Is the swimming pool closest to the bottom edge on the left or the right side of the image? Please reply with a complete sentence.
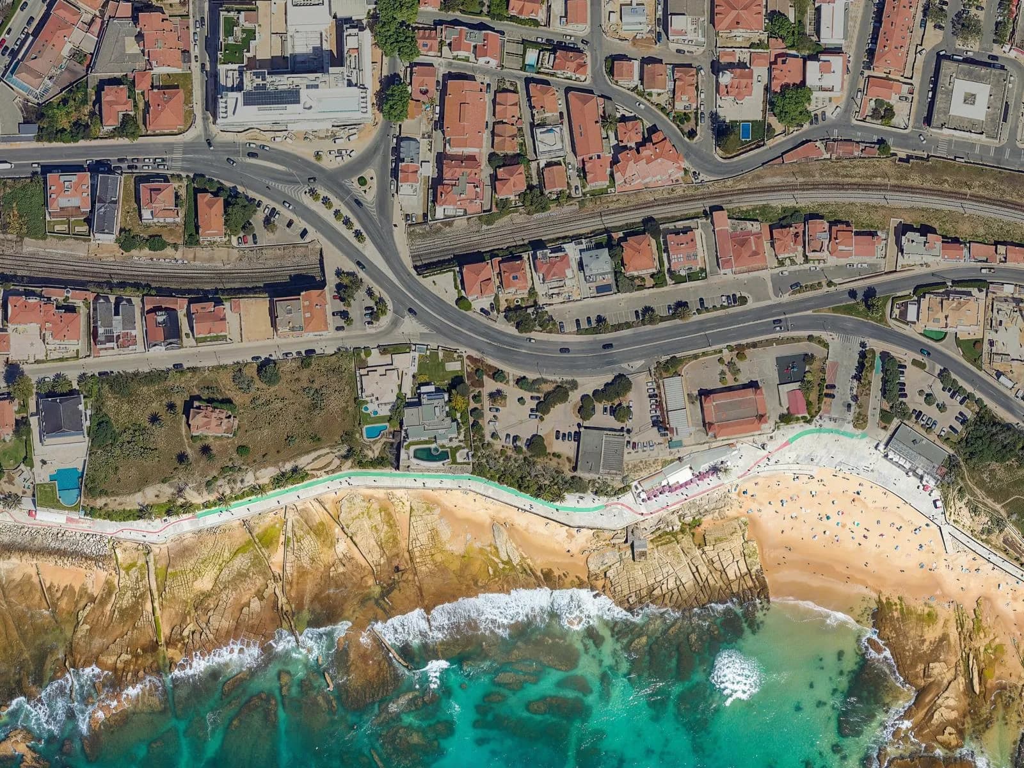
It is on the left.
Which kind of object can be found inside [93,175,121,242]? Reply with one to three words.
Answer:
house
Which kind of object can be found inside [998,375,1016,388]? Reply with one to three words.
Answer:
vehicle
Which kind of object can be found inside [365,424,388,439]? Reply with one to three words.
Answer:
swimming pool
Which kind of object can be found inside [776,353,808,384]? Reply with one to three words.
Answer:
playground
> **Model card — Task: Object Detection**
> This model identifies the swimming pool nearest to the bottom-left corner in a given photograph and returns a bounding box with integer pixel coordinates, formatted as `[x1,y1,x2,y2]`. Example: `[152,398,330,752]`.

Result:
[49,467,83,507]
